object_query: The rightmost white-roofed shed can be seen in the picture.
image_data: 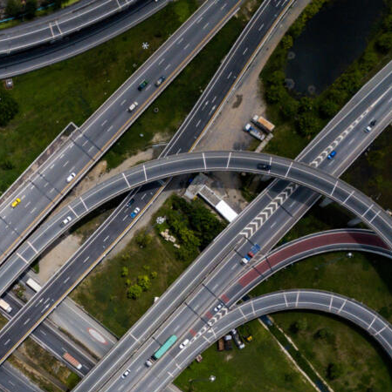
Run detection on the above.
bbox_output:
[214,199,239,226]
